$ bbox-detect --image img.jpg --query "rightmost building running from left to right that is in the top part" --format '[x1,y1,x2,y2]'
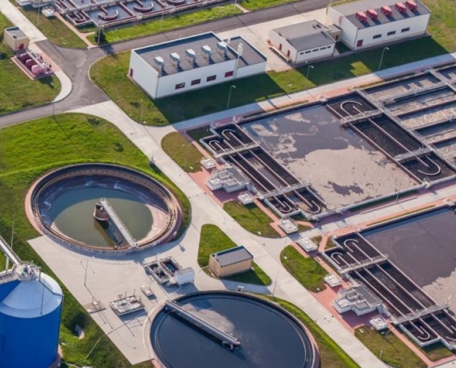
[326,0,430,51]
